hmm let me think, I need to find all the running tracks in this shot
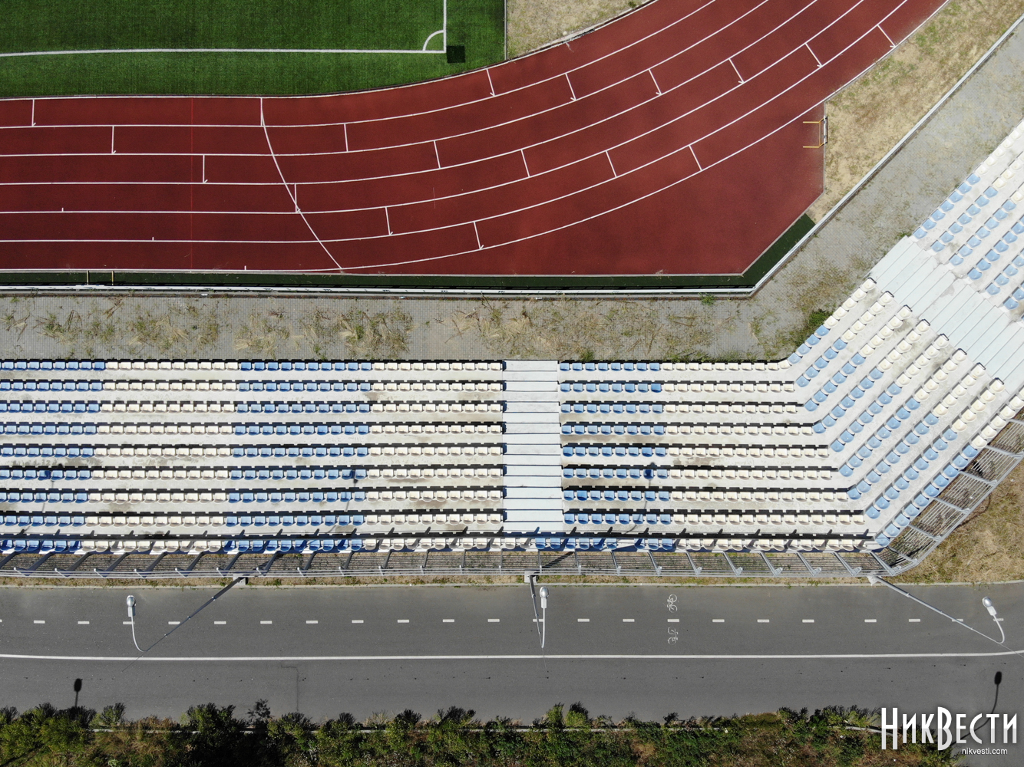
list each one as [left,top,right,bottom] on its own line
[0,0,956,277]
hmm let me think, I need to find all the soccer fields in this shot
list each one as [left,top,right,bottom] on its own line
[0,0,508,94]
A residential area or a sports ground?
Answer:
sports ground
